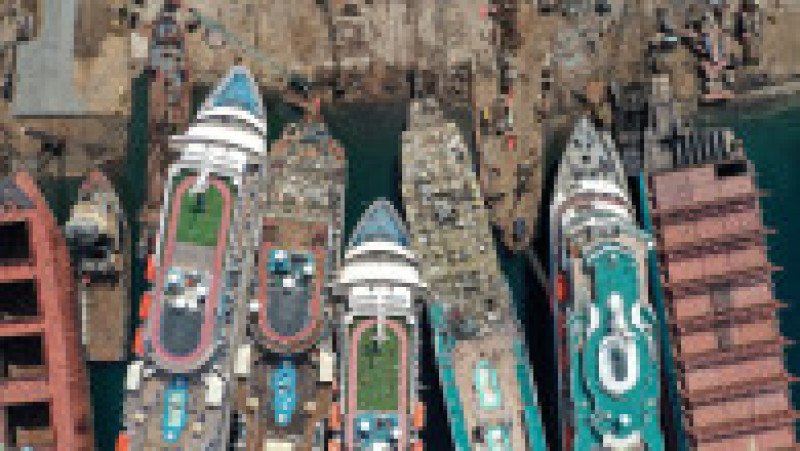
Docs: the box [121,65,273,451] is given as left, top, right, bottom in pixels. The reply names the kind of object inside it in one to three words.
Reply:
ship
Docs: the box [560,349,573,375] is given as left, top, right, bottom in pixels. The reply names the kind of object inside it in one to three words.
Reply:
boat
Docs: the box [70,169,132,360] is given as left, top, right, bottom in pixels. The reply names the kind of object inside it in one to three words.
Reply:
vessel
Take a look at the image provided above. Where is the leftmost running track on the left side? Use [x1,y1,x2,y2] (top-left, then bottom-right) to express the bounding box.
[155,172,234,359]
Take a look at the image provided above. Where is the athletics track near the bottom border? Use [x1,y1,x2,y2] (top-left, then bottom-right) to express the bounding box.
[347,321,408,451]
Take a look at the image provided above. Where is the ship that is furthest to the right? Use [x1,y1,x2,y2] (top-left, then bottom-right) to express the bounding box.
[628,114,800,451]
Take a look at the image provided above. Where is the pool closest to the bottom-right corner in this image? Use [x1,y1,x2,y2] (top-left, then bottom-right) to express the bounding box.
[600,331,638,395]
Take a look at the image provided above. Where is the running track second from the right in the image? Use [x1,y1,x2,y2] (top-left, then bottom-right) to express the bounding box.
[261,242,323,343]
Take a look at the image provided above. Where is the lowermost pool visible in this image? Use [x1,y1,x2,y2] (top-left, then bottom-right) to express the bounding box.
[482,424,510,451]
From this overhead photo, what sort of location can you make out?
parking lot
